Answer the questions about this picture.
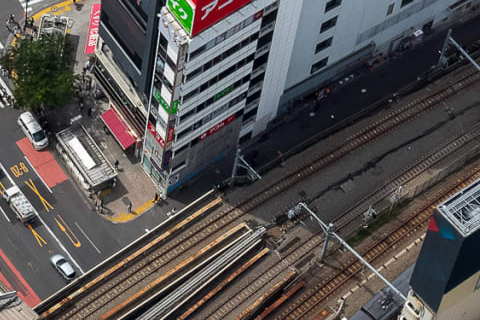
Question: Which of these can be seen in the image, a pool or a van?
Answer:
van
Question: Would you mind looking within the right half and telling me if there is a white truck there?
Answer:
No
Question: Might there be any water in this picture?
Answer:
No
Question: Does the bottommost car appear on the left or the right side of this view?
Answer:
left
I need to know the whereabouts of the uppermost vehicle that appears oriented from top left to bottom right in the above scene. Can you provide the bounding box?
[18,112,48,149]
